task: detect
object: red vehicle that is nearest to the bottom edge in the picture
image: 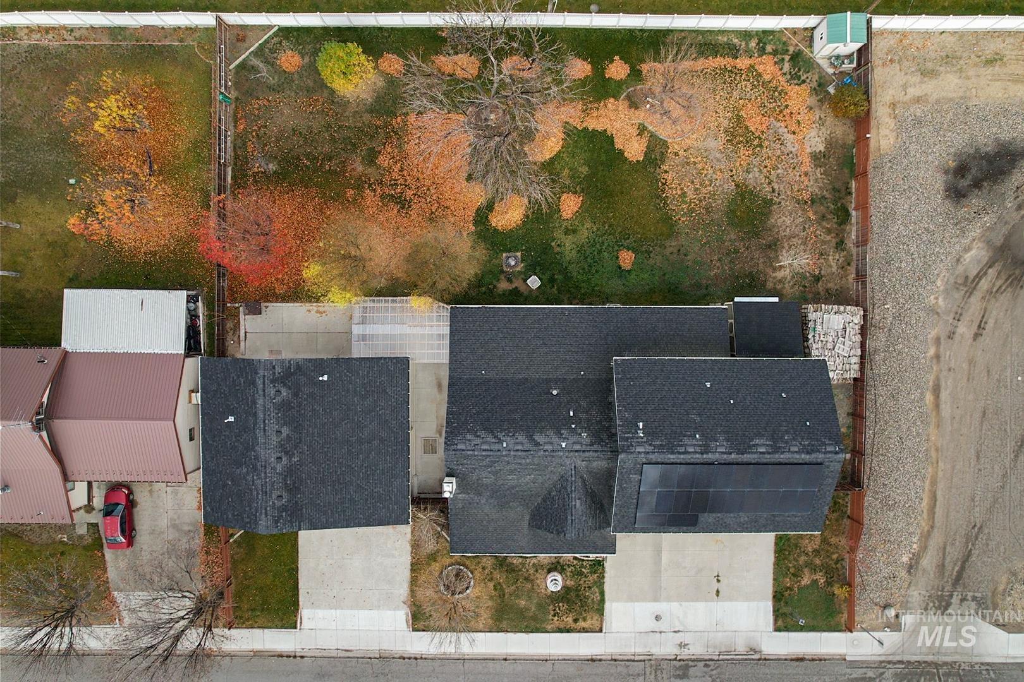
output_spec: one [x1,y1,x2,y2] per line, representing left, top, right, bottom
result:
[98,486,136,550]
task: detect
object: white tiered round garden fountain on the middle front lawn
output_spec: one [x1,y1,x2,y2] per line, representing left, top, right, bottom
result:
[545,568,563,588]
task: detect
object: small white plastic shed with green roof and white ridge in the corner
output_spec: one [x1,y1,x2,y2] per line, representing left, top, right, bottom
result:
[815,8,868,57]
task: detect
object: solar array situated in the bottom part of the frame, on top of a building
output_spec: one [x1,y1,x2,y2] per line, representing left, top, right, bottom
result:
[637,466,825,529]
